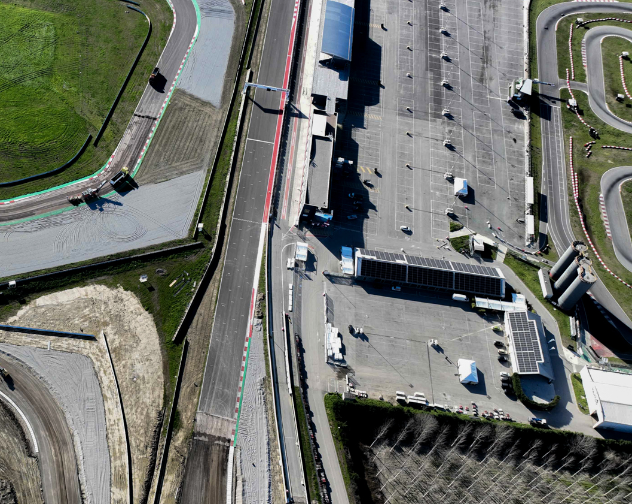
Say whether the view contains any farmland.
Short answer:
Yes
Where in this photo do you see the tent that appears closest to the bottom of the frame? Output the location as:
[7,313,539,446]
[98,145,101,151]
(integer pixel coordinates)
[457,359,478,386]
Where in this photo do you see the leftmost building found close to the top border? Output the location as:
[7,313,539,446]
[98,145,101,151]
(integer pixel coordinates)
[310,0,354,118]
